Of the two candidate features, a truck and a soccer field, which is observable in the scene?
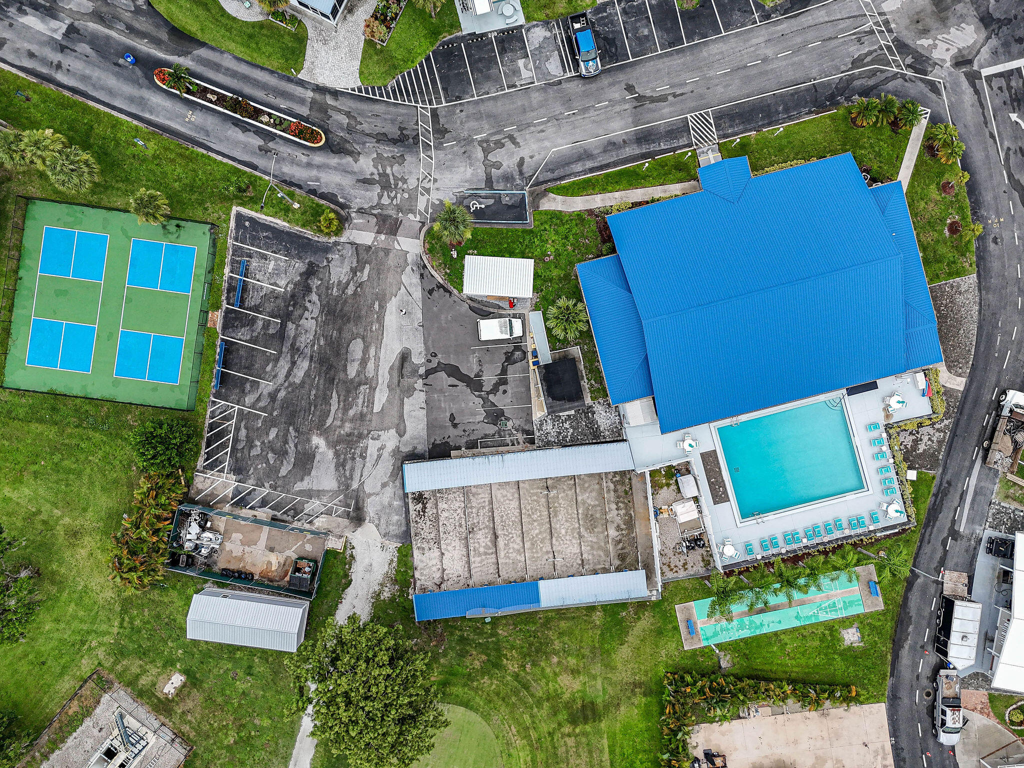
truck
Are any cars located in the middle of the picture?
Yes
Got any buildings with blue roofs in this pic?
Yes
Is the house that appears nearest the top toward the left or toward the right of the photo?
left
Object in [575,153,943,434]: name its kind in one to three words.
building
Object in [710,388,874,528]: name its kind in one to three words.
swimming pool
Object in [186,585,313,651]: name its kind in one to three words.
shed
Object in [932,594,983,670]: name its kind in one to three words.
trailer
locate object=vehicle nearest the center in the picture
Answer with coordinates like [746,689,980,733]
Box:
[476,317,523,341]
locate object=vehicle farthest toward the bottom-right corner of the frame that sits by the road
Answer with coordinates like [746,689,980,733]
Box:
[932,667,970,744]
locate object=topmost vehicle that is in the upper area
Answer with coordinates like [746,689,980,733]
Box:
[567,10,601,80]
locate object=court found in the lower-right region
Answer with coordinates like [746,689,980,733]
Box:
[675,565,885,650]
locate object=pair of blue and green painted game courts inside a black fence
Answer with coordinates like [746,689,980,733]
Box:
[3,199,210,409]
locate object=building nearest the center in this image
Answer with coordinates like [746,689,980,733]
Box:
[538,358,586,414]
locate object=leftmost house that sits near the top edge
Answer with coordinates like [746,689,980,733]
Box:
[292,0,350,35]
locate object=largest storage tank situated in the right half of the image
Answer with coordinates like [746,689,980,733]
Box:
[669,497,704,542]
